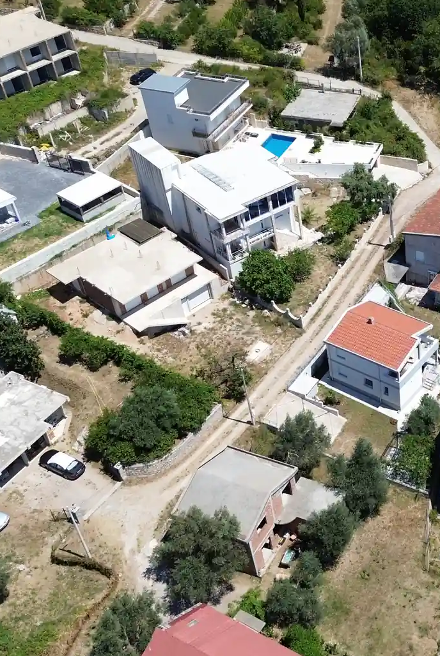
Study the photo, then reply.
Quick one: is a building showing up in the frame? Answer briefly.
Yes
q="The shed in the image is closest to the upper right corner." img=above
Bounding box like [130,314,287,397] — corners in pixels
[281,90,370,135]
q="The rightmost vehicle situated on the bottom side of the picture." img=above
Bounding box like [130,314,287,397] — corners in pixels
[40,454,85,480]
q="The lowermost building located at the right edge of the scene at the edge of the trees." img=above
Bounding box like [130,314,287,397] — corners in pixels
[326,304,440,411]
